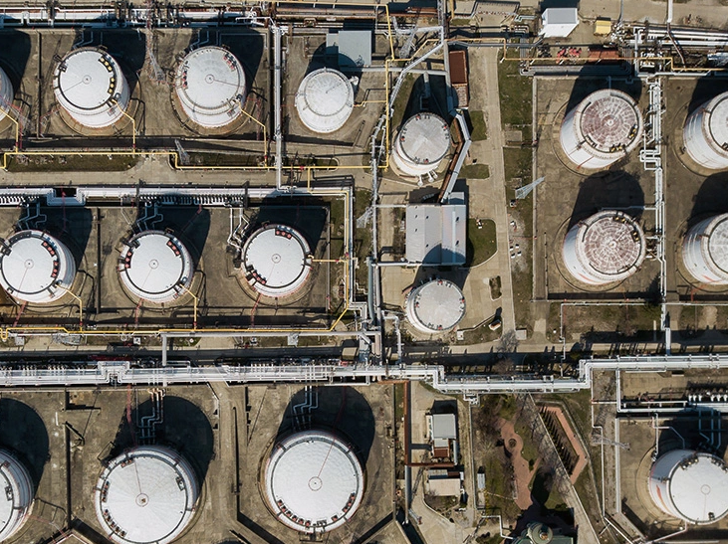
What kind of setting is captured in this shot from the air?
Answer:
industrial area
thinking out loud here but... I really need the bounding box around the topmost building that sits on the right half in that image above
[537,7,578,34]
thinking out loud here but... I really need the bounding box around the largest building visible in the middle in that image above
[404,203,465,264]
